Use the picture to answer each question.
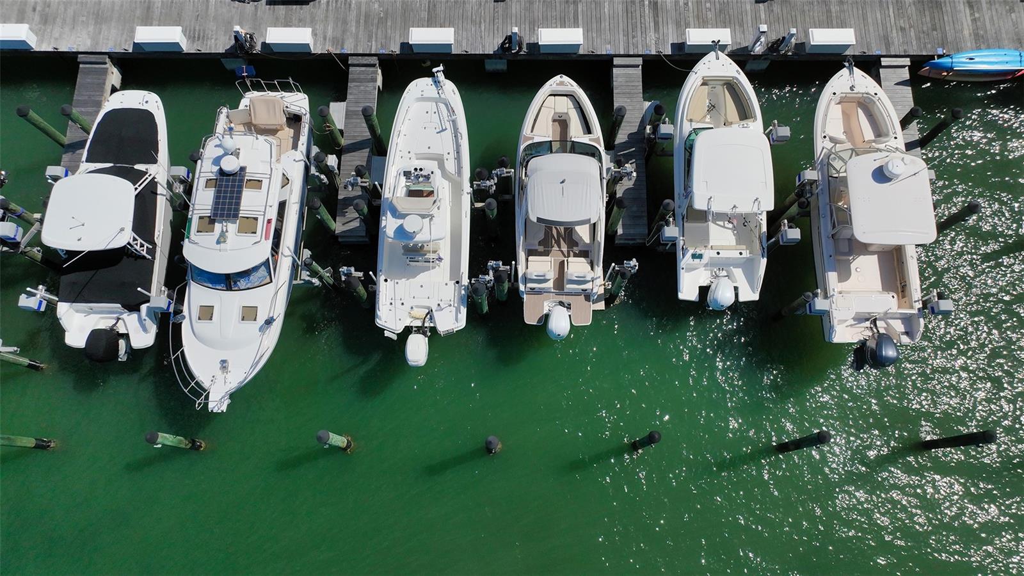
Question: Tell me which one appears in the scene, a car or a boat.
boat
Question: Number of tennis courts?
0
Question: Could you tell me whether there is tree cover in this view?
No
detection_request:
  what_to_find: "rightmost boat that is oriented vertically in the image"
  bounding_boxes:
[808,51,955,373]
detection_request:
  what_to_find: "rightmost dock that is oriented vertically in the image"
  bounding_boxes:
[879,58,924,162]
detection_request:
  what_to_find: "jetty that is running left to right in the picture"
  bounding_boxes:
[0,0,1024,60]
